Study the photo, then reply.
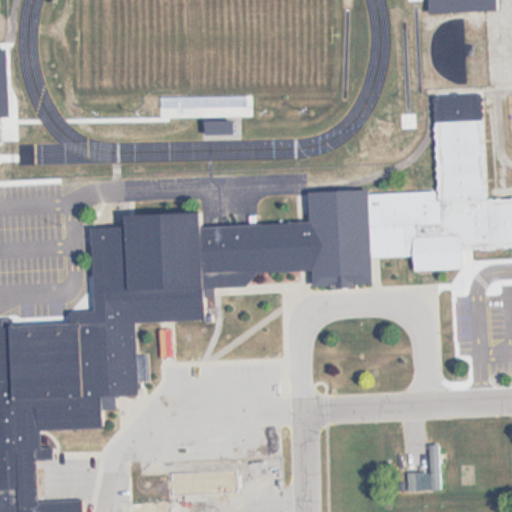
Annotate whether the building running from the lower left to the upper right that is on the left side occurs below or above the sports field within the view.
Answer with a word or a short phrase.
below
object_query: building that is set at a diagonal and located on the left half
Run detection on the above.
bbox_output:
[0,189,372,512]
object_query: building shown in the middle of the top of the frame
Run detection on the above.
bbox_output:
[204,119,233,134]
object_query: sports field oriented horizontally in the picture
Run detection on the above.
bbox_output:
[75,0,345,94]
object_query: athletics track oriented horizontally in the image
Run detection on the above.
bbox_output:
[20,0,390,166]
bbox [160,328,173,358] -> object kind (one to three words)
shed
